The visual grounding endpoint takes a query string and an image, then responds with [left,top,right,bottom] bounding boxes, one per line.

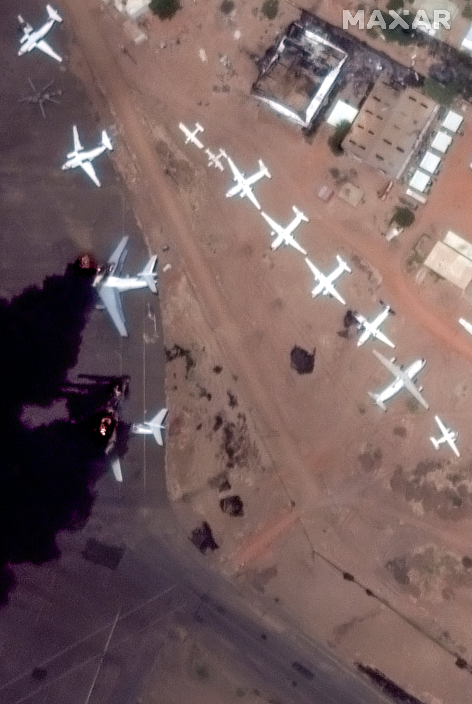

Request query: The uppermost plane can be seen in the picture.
[18,3,62,61]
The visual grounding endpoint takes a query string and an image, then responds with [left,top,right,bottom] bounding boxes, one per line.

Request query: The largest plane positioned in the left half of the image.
[92,237,160,336]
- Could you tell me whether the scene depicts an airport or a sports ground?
airport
